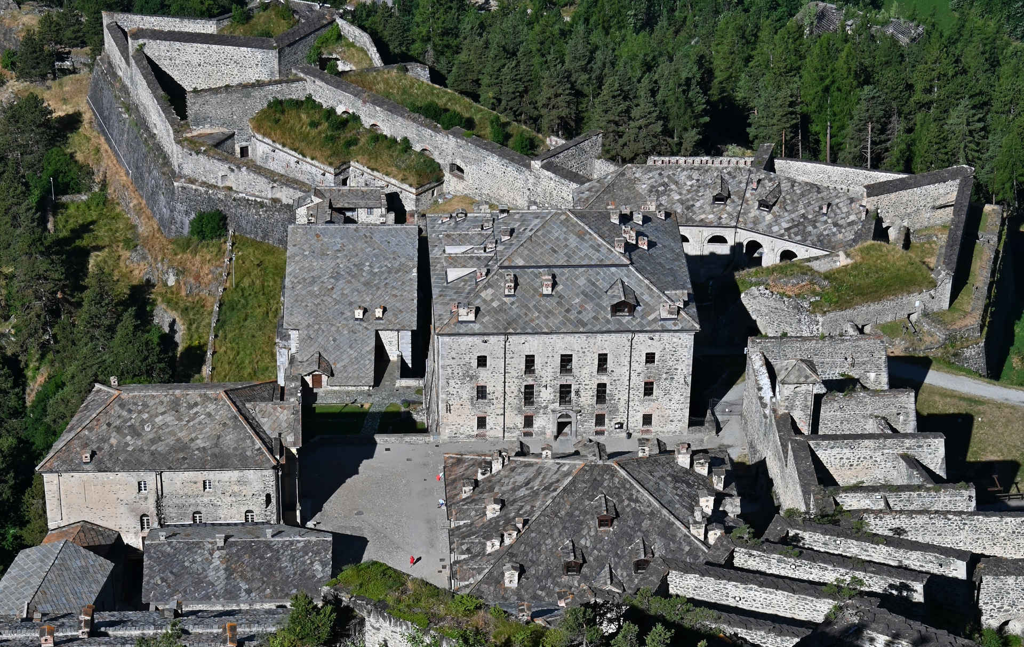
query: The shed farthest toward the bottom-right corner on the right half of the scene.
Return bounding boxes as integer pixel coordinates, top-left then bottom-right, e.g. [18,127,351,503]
[772,356,820,431]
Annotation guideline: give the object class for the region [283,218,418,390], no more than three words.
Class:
building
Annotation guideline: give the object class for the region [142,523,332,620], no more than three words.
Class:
shed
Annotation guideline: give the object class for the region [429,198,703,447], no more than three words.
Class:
building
